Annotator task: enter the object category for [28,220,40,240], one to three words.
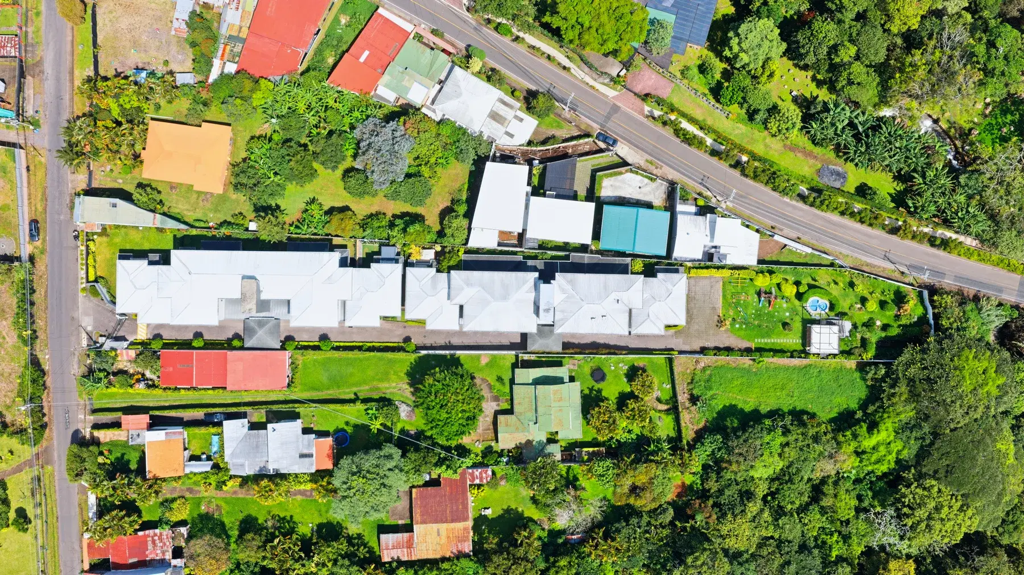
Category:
vehicle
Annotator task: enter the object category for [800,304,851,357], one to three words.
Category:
building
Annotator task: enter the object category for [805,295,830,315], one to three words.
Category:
swimming pool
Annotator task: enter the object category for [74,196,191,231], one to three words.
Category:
house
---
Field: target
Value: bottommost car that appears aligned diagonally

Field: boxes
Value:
[596,131,617,147]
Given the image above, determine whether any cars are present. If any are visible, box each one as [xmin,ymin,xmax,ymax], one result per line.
[205,413,226,423]
[596,131,617,147]
[28,220,40,240]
